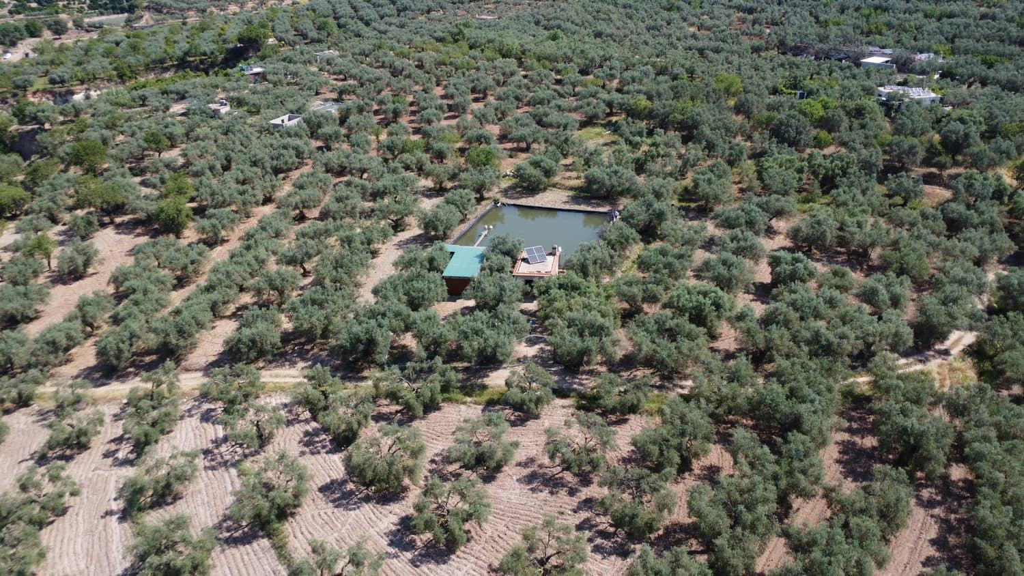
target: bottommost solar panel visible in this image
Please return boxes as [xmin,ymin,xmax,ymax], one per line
[526,246,548,267]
